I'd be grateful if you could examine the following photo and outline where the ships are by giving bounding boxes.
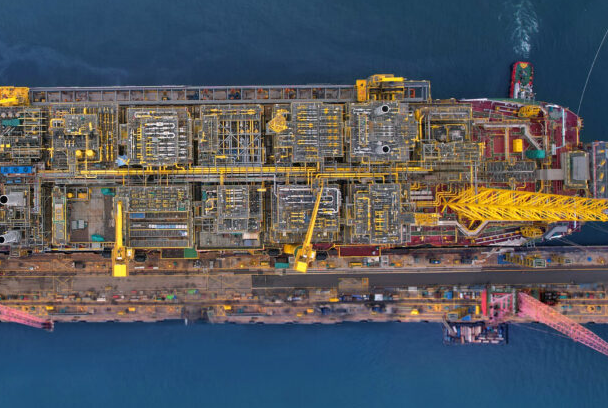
[0,86,608,259]
[441,313,508,344]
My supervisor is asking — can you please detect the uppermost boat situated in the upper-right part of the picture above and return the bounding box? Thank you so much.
[508,61,534,100]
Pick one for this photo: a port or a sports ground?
port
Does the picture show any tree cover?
No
